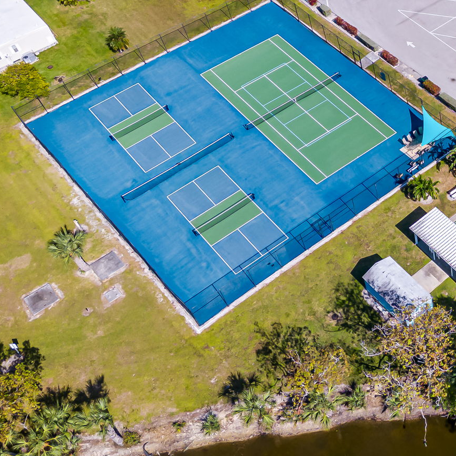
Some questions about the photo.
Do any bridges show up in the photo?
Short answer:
No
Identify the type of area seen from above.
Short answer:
sports ground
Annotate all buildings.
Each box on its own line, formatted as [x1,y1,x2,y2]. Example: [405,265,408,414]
[0,0,58,69]
[362,257,434,327]
[409,209,456,270]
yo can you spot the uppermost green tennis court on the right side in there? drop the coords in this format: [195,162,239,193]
[201,34,396,184]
